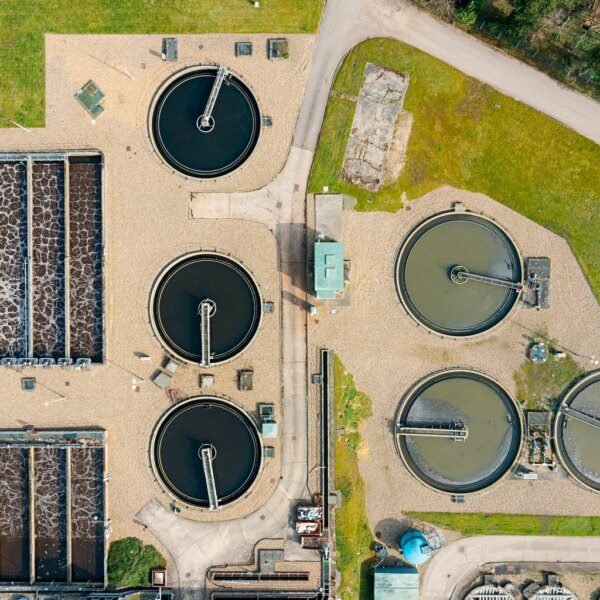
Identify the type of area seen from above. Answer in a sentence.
This image shows an industrial area.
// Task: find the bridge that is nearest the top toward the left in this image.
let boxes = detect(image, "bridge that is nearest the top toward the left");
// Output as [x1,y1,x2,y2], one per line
[200,64,230,124]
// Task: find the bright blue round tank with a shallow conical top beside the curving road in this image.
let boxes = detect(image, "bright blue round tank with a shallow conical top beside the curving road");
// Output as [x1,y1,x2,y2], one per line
[398,518,448,564]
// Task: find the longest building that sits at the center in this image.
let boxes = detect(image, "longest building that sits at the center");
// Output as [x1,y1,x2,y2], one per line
[314,232,343,298]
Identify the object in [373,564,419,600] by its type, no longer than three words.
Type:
shed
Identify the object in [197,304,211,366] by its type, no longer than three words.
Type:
bridge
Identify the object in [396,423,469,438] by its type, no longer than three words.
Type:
bridge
